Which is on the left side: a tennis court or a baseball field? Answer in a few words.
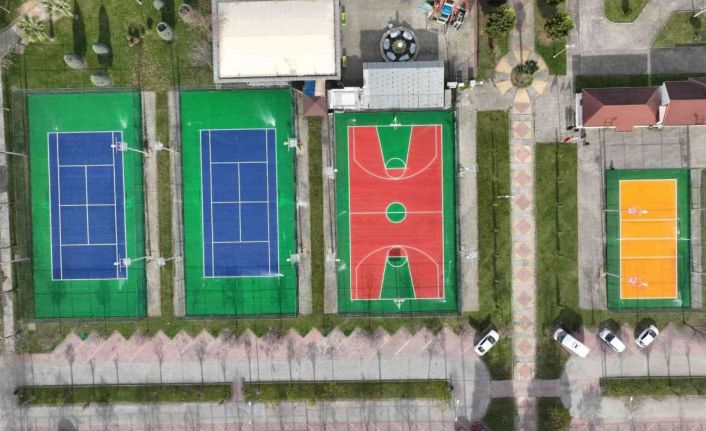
tennis court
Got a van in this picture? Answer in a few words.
Yes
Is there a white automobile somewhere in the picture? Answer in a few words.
Yes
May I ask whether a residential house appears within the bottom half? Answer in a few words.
No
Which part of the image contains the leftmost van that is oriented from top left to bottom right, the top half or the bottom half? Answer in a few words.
bottom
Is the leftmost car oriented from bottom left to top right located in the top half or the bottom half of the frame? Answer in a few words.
bottom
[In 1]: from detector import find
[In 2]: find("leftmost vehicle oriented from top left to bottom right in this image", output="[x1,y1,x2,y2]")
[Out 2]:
[553,326,592,359]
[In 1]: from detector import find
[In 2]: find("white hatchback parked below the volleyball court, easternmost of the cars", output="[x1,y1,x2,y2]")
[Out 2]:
[634,323,659,348]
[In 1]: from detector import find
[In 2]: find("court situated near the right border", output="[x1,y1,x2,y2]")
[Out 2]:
[607,168,694,309]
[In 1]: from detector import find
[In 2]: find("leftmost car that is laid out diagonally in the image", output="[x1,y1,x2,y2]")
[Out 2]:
[472,330,499,357]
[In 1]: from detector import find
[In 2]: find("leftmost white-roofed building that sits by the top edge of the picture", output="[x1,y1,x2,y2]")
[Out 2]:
[214,0,341,87]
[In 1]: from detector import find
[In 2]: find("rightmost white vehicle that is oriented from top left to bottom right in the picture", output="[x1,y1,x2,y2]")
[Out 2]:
[598,326,627,352]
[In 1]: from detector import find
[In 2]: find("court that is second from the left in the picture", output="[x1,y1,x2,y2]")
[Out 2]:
[179,90,299,317]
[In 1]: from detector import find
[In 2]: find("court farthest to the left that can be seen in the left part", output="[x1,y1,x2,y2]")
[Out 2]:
[27,92,148,319]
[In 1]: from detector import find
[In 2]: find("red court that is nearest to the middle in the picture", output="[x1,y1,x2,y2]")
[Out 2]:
[334,111,459,314]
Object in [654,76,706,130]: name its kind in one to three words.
house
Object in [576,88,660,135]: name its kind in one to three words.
house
